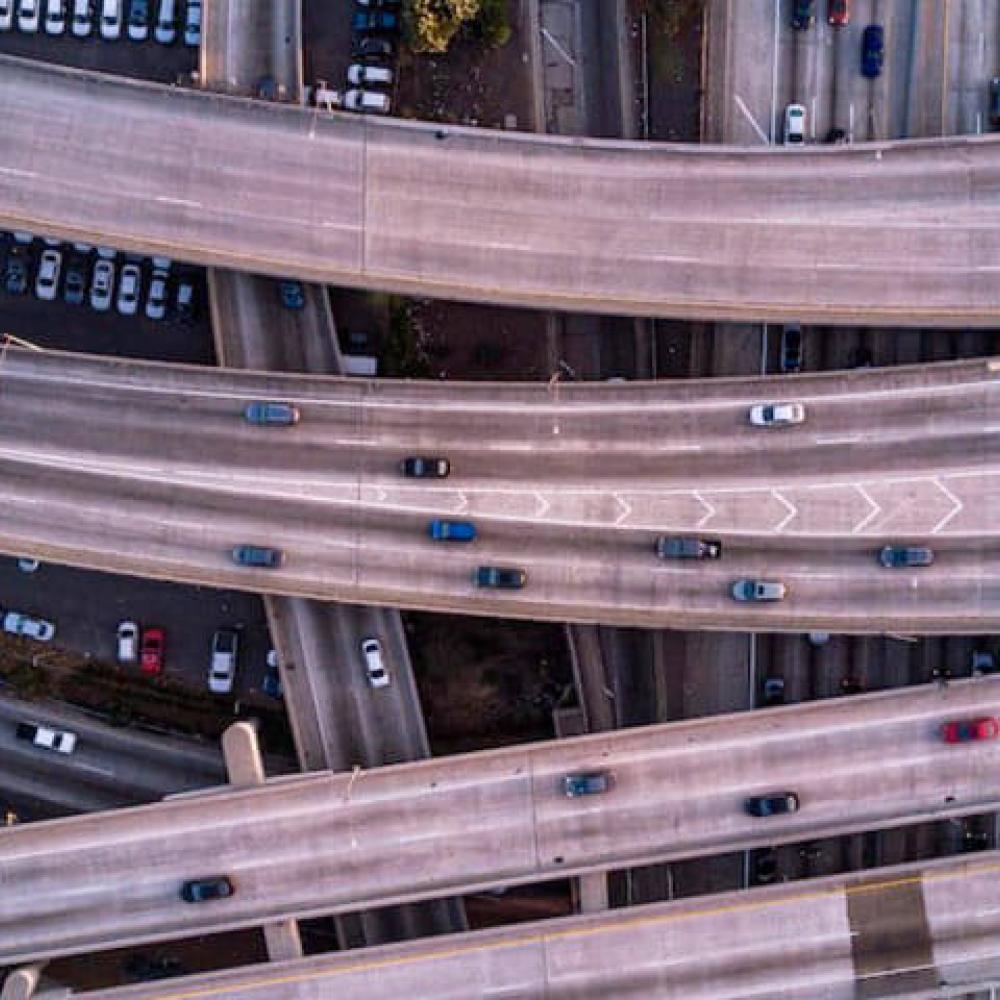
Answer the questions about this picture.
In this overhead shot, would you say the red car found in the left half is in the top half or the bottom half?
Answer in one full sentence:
The bottom half of the photo is where the red car found in the left half is.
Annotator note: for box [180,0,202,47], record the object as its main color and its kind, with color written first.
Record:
blue car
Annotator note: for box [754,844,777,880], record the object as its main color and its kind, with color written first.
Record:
black car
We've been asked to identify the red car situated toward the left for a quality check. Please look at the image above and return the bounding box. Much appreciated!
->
[140,627,164,674]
